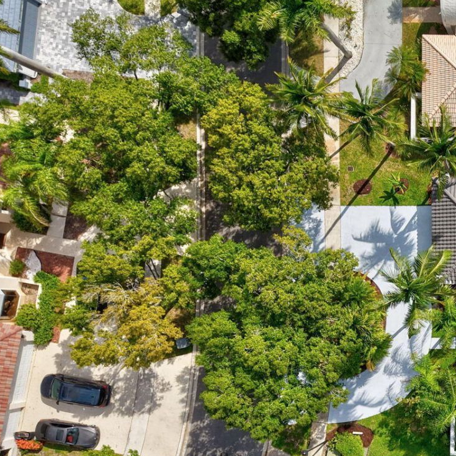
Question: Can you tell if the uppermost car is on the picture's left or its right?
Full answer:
It is on the left.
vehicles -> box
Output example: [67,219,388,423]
[34,375,109,409]
[29,421,100,455]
